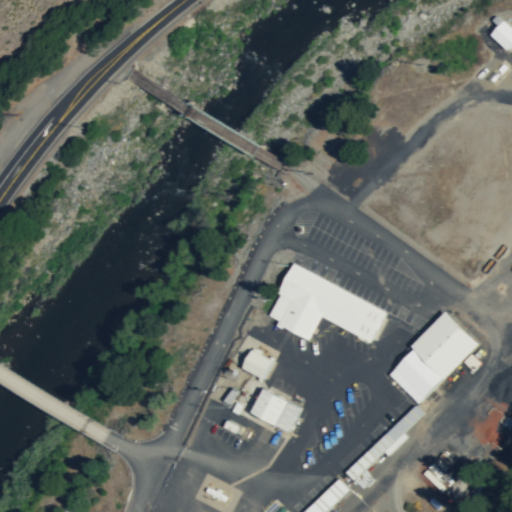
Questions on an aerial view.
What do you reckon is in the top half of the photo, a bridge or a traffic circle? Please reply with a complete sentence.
It is a bridge that can be seen in the top half of the photo.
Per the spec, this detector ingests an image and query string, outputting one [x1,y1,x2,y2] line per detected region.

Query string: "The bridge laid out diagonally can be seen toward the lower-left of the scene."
[0,364,116,446]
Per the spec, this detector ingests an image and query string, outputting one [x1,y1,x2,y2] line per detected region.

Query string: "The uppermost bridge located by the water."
[129,68,284,173]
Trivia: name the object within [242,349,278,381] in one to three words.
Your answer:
building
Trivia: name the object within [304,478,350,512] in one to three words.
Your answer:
shed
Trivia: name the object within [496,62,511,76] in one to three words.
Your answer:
vehicle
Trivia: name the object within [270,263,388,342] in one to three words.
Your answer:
building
